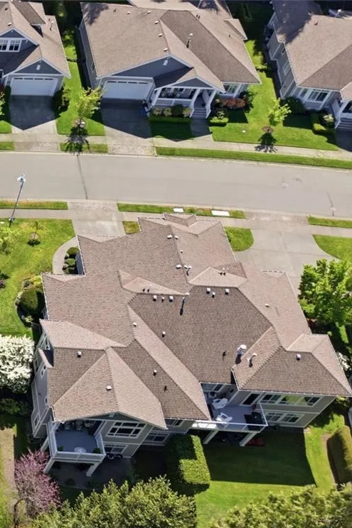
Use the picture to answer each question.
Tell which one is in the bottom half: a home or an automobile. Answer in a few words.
home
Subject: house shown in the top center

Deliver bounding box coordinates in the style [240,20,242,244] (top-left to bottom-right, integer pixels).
[71,0,264,118]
